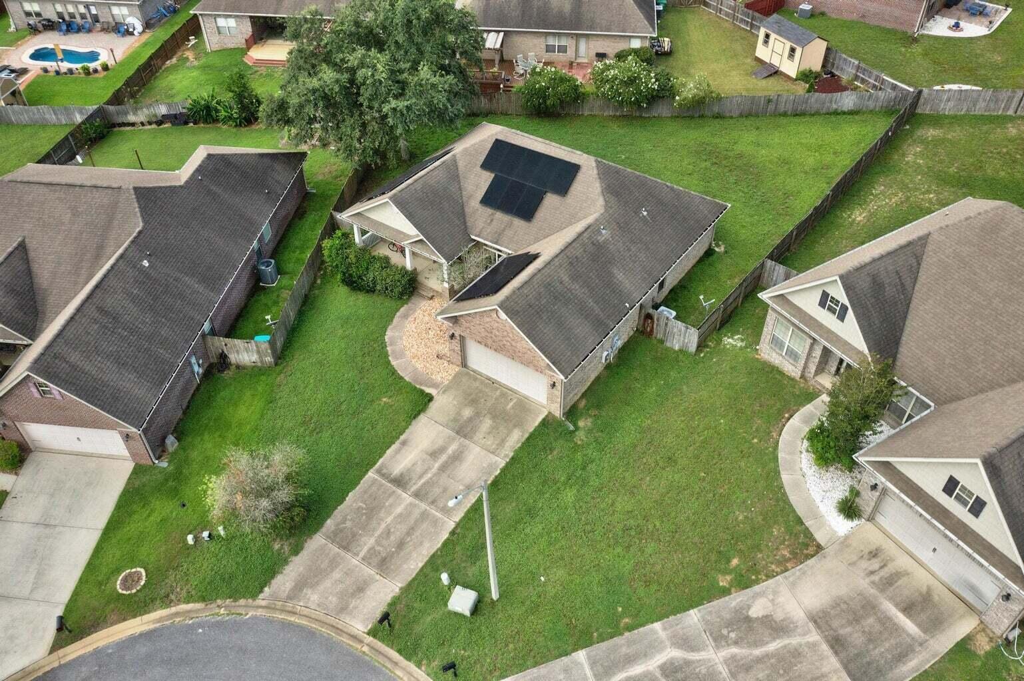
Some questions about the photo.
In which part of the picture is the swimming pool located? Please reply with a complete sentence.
The swimming pool appears toward the top left of the photo.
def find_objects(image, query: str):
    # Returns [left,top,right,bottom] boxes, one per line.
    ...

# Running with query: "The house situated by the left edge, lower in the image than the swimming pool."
[0,146,313,468]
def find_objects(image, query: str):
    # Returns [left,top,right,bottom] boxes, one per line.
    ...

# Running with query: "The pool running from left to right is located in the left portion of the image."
[22,45,106,65]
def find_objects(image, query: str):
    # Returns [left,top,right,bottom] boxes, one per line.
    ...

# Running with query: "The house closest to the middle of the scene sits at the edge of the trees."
[339,122,733,429]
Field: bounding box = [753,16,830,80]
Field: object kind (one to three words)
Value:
shed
